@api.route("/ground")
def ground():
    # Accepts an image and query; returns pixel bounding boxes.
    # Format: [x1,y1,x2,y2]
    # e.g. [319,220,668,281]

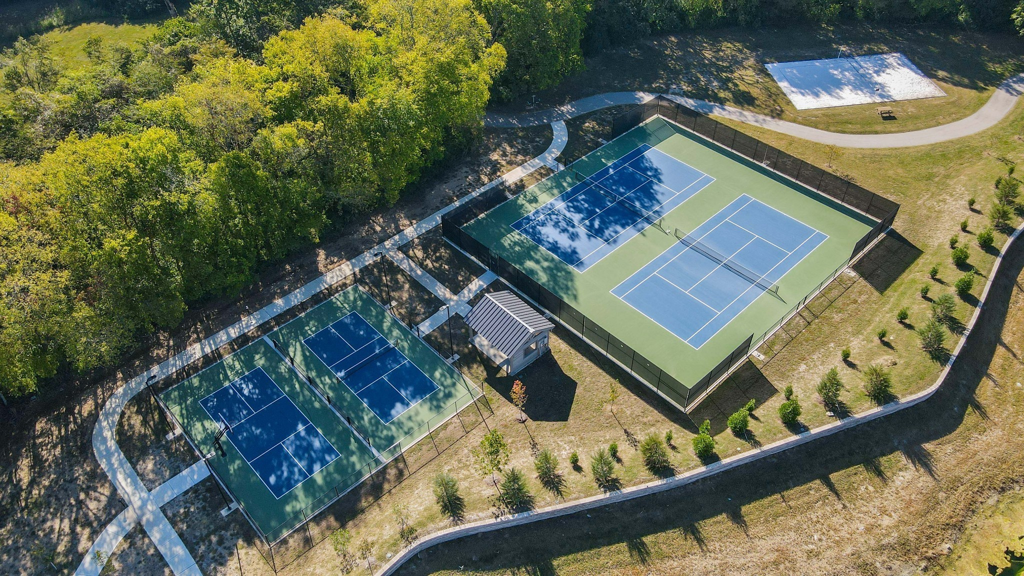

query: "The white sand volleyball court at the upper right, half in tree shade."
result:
[763,52,948,111]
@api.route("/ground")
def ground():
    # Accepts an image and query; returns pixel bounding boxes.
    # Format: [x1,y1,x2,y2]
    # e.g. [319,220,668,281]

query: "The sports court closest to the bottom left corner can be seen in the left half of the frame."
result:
[161,338,383,545]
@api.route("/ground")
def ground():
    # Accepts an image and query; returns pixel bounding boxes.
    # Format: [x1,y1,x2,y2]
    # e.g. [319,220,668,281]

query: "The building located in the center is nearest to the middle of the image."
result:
[463,290,556,376]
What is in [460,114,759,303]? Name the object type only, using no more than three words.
tennis court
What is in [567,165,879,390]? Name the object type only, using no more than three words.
tennis court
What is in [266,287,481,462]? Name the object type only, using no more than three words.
sports court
